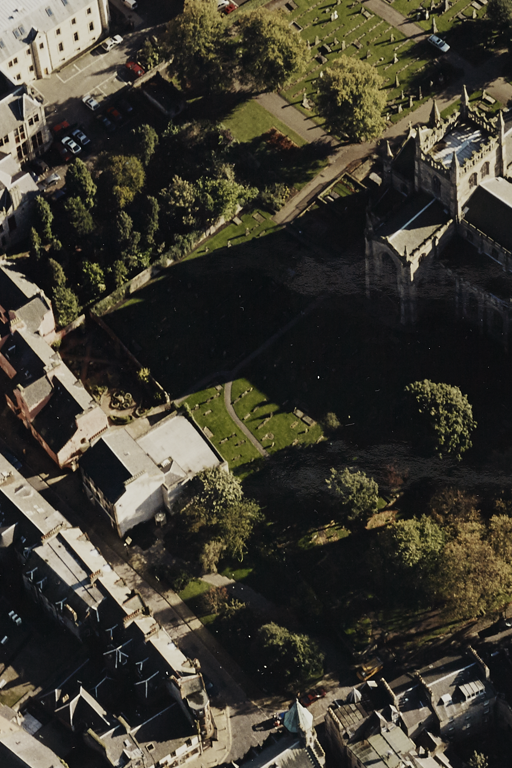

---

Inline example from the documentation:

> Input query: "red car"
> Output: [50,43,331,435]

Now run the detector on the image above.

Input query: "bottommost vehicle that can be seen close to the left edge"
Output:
[2,450,24,472]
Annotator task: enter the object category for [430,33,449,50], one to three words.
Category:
car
